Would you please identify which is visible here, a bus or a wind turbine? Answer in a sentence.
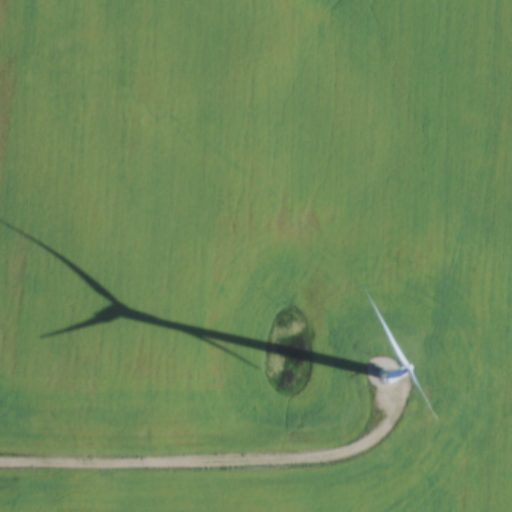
Visible in the photo is a wind turbine.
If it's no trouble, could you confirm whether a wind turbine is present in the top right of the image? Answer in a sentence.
No, no wind turbine can be made out in the top right of the image.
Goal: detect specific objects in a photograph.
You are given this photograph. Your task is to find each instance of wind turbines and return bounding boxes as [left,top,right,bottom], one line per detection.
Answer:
[370,296,438,420]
